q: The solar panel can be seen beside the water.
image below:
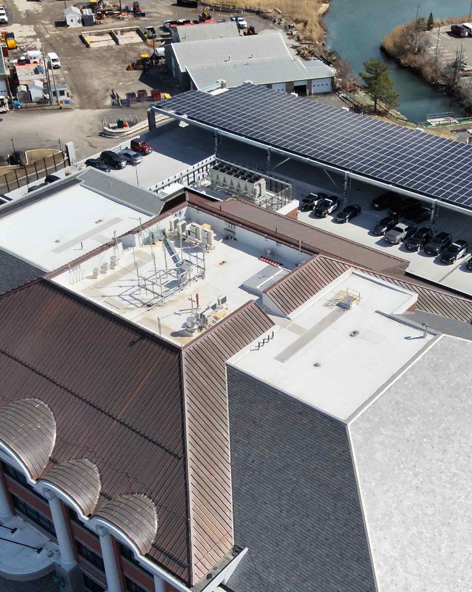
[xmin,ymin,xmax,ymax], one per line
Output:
[156,82,472,204]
